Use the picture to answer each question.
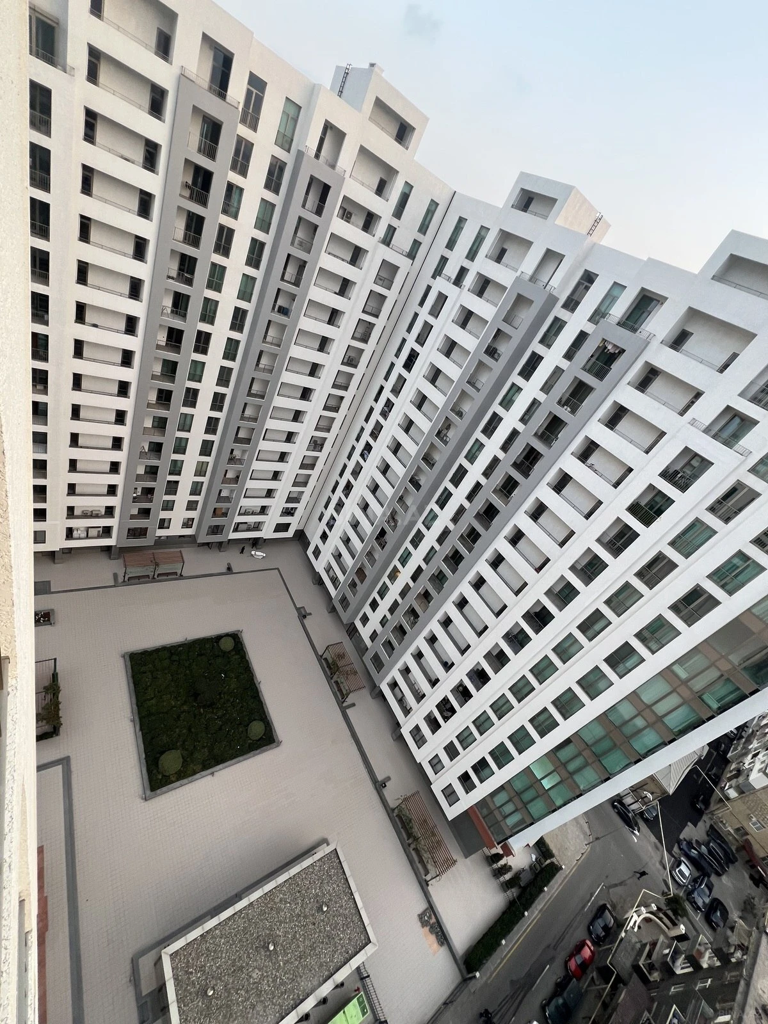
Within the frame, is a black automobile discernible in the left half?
No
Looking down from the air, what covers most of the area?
buildings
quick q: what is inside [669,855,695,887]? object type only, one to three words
car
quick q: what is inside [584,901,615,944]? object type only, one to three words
car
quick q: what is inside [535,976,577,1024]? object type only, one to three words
truck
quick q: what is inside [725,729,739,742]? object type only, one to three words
vehicle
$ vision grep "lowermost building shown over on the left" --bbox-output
[159,840,377,1024]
